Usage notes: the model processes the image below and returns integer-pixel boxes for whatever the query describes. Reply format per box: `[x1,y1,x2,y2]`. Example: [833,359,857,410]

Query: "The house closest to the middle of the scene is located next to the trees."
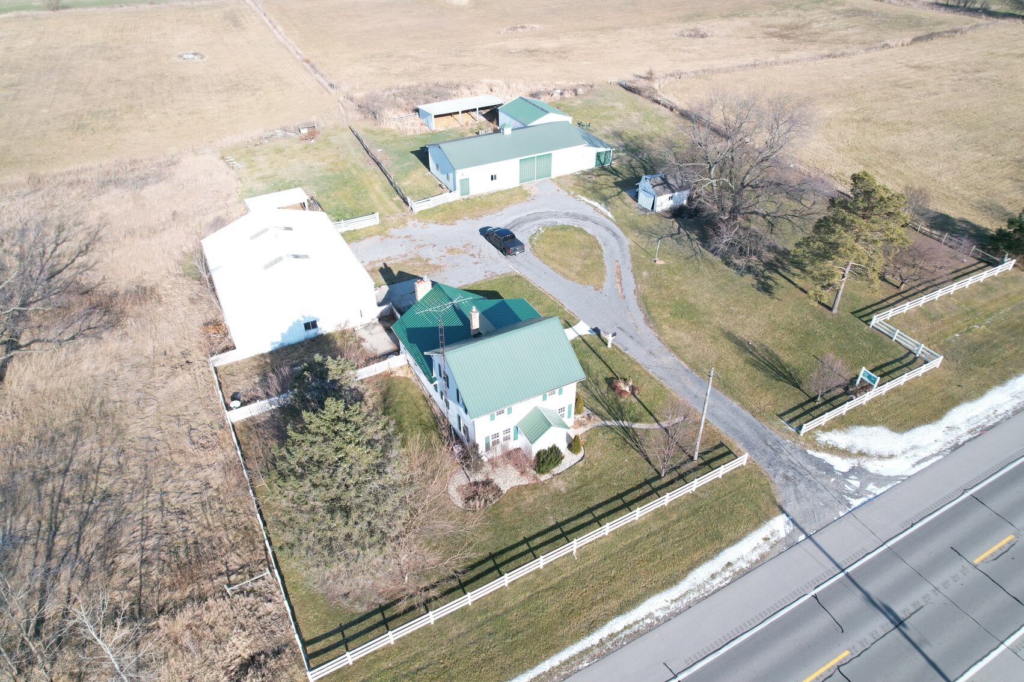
[392,275,585,462]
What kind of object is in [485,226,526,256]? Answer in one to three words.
truck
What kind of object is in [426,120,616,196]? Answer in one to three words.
barn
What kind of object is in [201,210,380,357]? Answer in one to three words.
building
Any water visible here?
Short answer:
No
